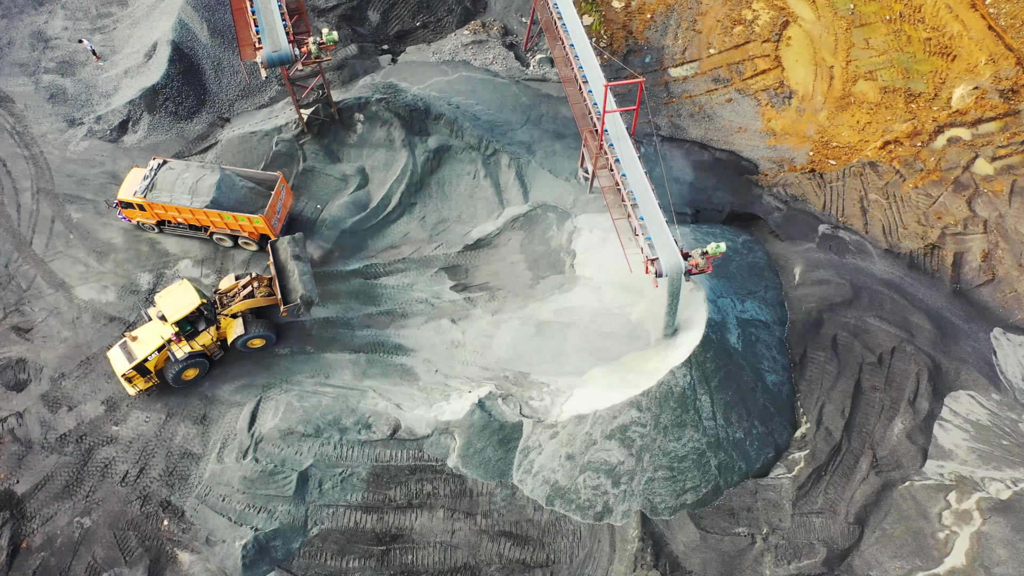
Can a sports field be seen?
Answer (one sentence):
No, there is no sports field in the image.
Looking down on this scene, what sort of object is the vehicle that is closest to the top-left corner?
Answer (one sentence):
I'd say the vehicle that is closest to the top-left corner is a truck.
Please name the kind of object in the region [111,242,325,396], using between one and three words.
work vehicle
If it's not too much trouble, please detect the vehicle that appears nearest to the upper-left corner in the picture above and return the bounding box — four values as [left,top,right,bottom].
[98,154,294,251]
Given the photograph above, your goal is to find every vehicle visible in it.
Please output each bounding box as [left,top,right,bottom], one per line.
[98,154,294,251]
[111,242,325,396]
